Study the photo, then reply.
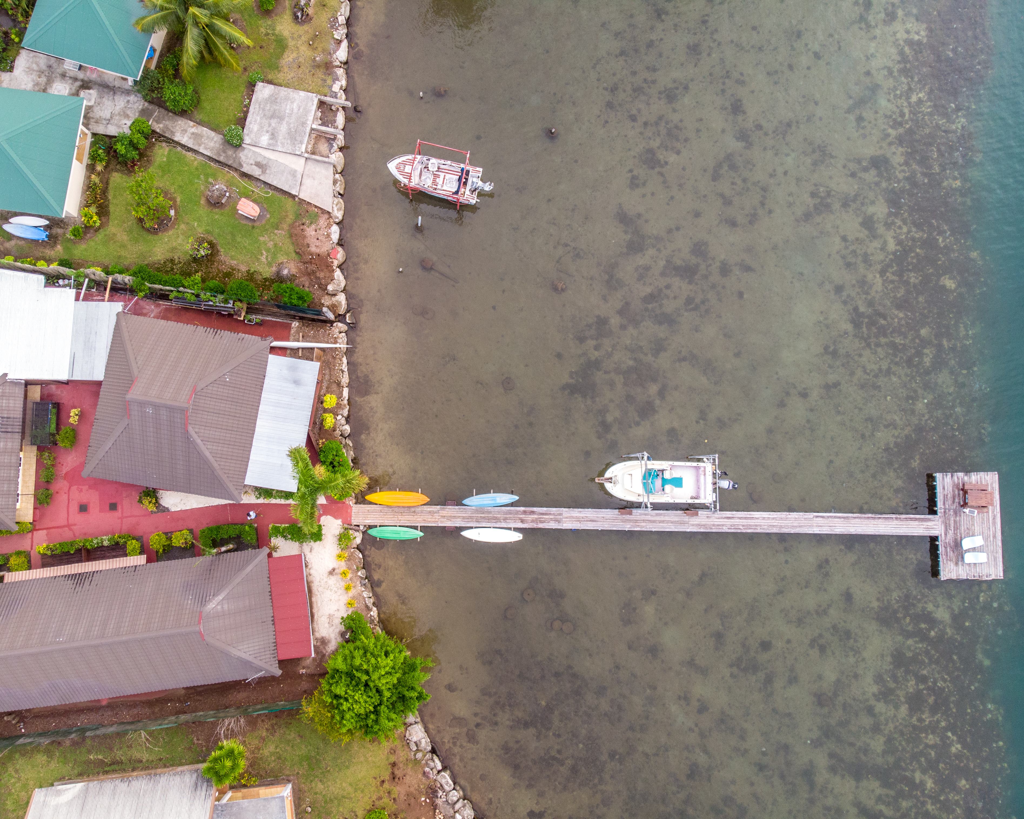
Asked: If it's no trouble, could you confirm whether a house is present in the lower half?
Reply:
Yes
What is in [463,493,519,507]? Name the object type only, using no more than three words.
boat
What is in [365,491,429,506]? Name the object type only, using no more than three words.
boat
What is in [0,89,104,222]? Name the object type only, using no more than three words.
building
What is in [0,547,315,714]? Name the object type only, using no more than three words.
house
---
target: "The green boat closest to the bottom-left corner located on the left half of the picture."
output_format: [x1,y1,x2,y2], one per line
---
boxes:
[367,526,424,540]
